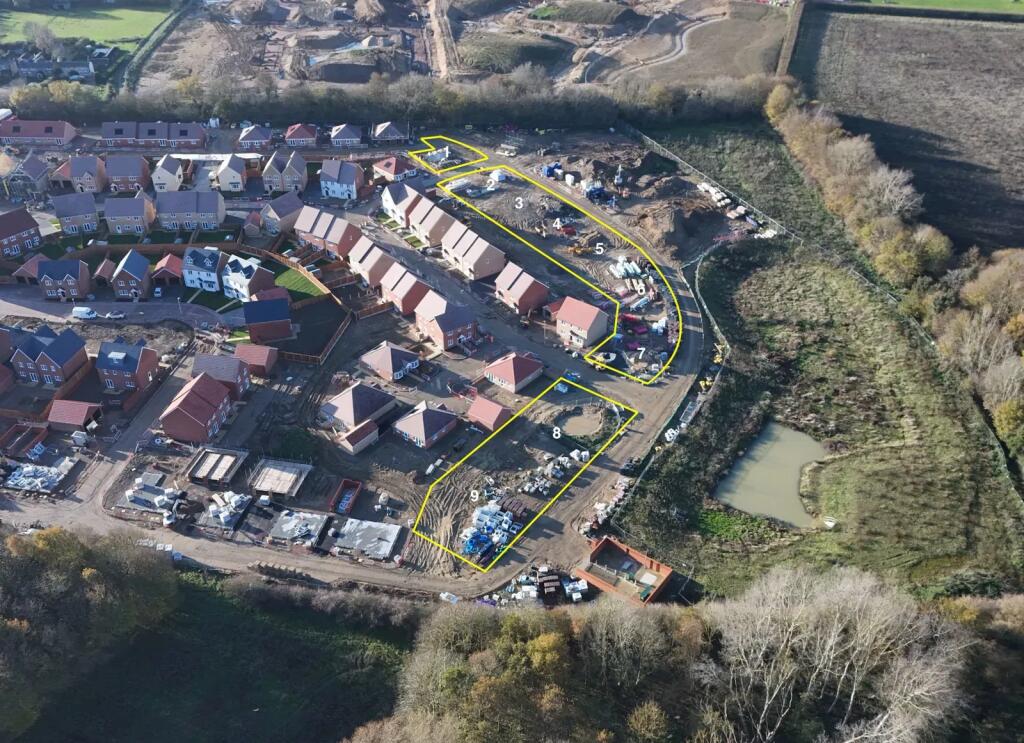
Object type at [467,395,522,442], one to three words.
building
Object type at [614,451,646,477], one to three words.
truck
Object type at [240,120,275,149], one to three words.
house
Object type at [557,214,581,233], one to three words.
vehicle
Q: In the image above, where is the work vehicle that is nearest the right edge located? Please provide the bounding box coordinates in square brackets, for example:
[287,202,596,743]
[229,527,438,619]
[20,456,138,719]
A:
[705,337,726,356]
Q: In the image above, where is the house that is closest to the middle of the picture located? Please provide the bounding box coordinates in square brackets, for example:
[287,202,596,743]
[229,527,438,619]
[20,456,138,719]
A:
[484,353,540,395]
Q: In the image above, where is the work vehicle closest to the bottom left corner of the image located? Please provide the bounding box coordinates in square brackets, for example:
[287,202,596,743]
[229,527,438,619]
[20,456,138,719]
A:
[154,494,201,527]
